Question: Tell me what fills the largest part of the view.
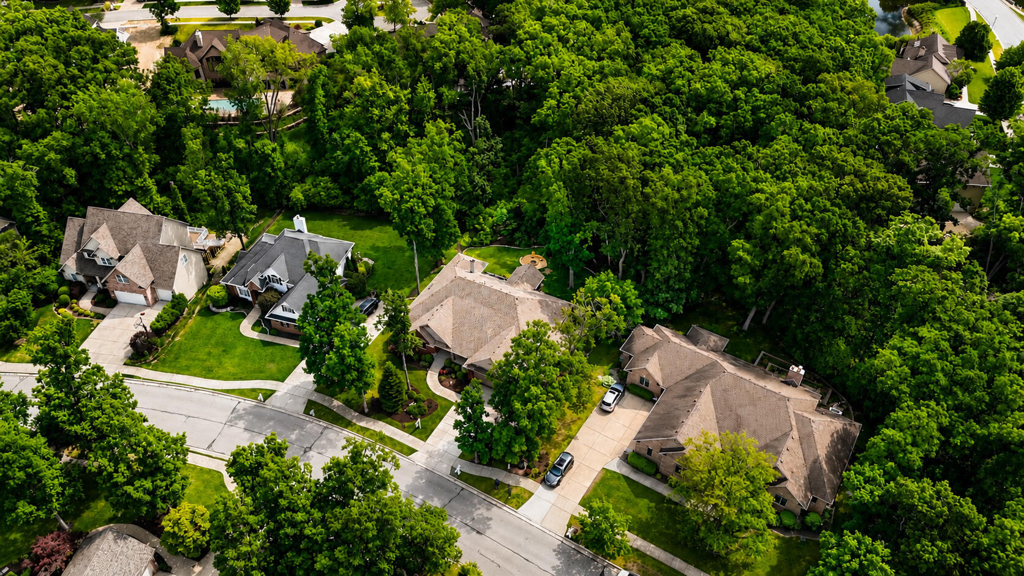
trees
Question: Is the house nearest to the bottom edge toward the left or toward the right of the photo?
left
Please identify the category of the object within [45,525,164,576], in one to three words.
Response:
house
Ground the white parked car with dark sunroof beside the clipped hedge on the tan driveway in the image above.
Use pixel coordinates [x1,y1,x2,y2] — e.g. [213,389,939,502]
[599,381,630,414]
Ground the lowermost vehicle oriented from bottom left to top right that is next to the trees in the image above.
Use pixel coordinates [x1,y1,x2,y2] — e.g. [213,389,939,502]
[544,451,578,491]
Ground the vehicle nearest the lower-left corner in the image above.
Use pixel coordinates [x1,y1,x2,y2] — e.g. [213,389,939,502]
[353,293,383,320]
